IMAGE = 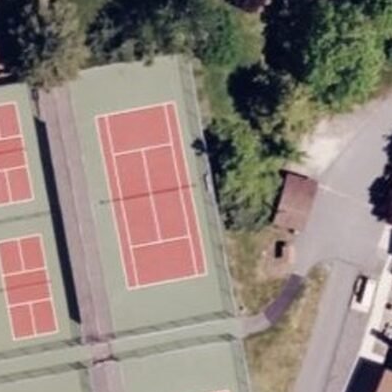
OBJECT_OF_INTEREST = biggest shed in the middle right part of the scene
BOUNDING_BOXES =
[274,174,318,228]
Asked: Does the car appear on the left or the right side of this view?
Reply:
right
